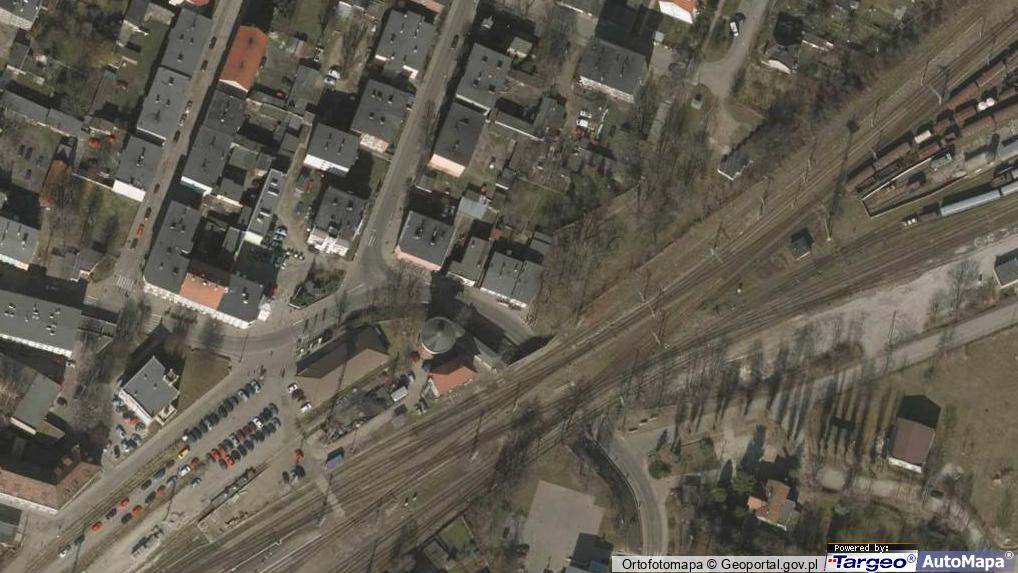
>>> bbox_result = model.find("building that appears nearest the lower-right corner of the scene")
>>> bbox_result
[887,417,937,471]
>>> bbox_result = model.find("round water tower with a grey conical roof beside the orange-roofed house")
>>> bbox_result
[422,318,467,360]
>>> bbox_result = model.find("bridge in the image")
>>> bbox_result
[509,336,600,438]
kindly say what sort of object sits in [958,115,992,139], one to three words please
rail car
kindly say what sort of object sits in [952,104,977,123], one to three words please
rail car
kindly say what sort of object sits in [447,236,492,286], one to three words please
building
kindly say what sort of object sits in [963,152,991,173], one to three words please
shed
